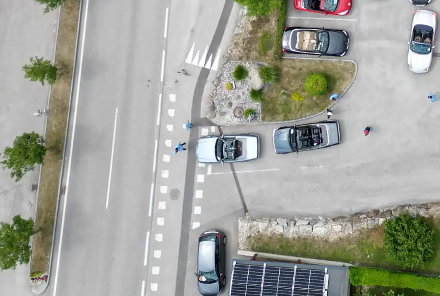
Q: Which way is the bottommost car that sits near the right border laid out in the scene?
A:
from top to bottom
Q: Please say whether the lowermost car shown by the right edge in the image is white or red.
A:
white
